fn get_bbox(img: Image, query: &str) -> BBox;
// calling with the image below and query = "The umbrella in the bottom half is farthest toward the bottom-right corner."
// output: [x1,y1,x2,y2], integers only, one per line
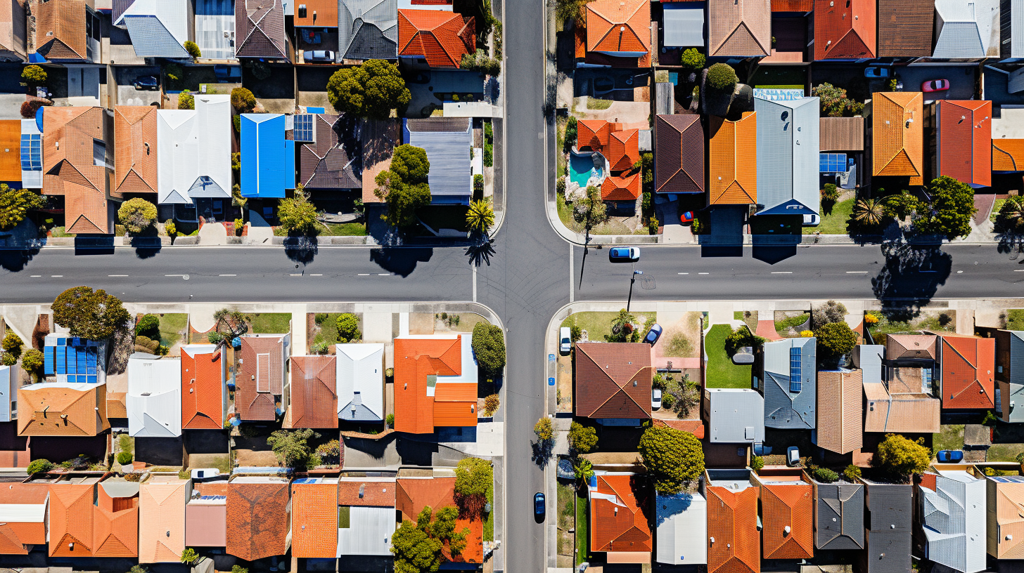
[557,460,575,478]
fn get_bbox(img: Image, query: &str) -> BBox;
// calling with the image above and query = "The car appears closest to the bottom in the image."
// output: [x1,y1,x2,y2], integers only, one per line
[532,491,547,521]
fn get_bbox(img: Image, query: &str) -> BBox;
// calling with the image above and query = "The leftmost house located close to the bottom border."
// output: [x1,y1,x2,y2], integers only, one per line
[0,479,61,556]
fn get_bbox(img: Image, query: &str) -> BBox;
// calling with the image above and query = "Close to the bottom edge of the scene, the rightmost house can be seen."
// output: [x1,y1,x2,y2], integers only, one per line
[987,484,1024,561]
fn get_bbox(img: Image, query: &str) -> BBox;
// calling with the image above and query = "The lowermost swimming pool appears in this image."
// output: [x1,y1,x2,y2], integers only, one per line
[565,146,611,204]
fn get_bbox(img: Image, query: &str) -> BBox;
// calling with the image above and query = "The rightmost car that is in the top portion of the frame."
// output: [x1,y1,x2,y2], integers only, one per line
[919,76,948,93]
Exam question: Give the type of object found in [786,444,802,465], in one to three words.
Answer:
car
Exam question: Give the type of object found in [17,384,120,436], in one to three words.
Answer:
house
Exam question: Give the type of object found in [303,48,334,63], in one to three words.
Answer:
car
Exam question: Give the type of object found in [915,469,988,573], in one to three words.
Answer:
house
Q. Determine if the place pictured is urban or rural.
urban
